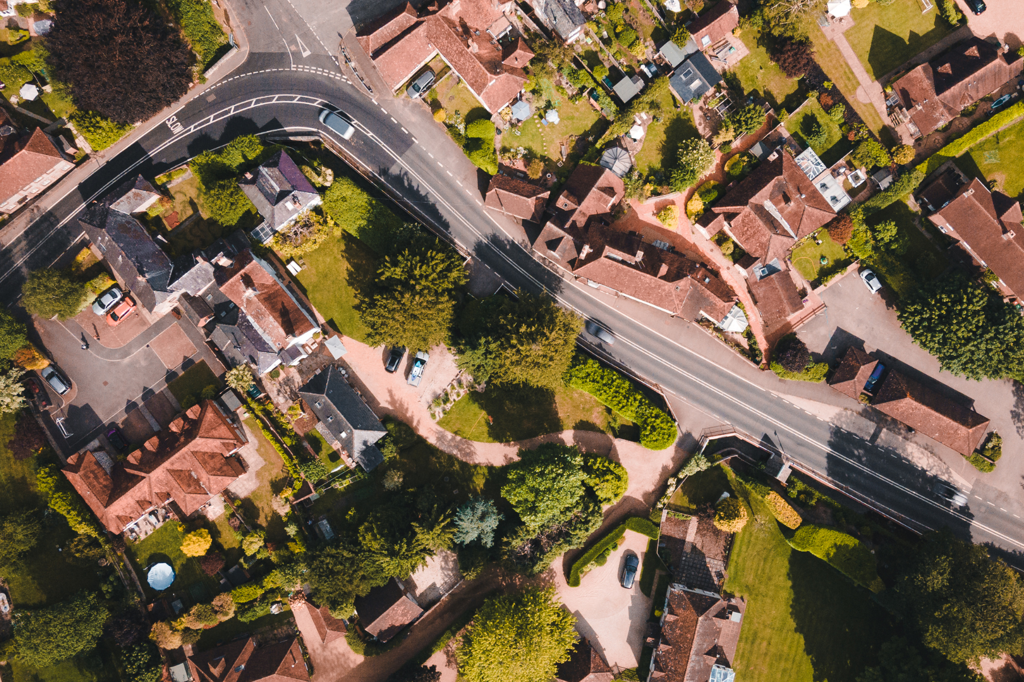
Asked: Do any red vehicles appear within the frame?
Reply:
Yes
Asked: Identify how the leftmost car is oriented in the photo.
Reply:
on a diagonal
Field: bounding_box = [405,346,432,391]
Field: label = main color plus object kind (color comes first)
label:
white truck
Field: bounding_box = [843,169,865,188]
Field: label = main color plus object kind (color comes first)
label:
white gazebo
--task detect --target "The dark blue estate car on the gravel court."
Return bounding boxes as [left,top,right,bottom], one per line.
[619,549,640,590]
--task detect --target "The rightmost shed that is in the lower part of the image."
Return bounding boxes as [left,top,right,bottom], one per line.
[864,368,990,457]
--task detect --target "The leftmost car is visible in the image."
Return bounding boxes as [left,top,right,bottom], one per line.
[42,361,75,399]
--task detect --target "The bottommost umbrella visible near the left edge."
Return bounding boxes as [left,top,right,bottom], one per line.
[22,84,42,102]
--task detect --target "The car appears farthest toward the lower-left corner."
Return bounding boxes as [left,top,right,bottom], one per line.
[104,420,131,455]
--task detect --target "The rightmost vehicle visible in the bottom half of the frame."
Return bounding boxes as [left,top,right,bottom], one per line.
[932,480,967,506]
